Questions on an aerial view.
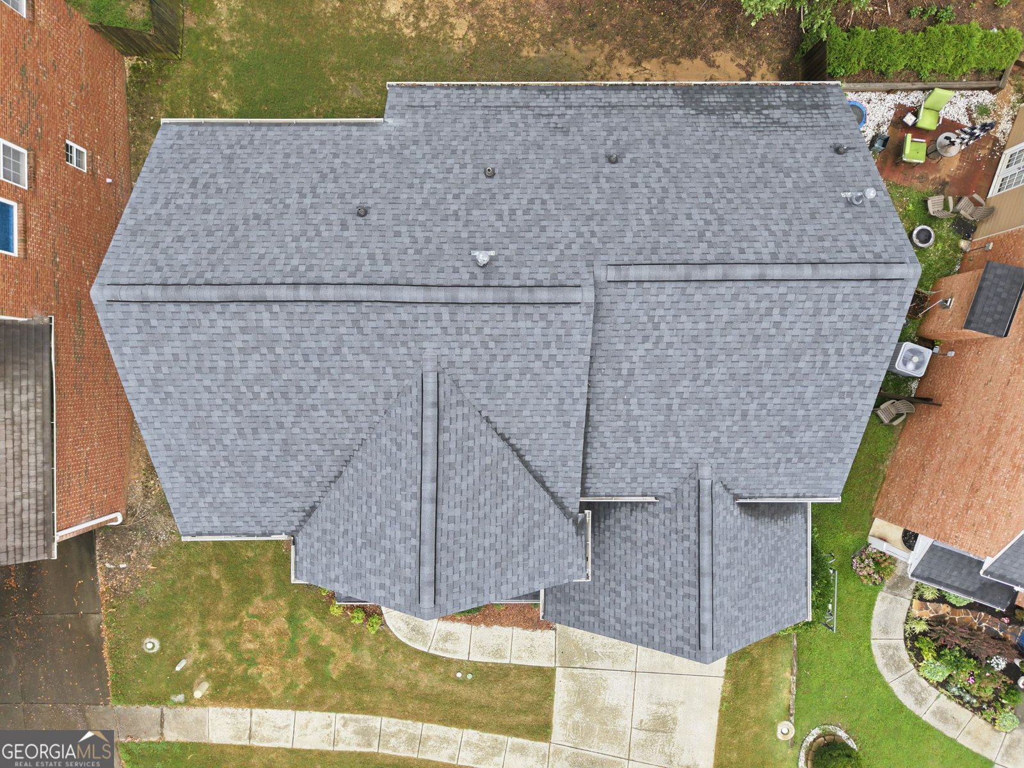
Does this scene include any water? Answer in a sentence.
No, no water is visible.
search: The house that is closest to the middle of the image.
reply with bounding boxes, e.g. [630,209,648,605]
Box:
[91,79,921,663]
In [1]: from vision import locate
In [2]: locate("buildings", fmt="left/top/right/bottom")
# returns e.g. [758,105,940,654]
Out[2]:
[91,79,921,663]
[866,103,1024,618]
